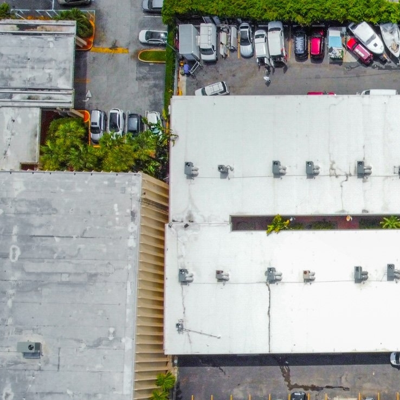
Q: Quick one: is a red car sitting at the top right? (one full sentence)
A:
Yes, the scene does show a red car at the top right.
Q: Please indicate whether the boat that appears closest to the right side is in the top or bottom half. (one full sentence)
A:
You can find the boat that appears closest to the right side in the top half.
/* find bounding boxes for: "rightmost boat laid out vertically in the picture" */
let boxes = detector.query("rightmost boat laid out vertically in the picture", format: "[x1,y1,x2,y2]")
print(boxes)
[378,15,400,60]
